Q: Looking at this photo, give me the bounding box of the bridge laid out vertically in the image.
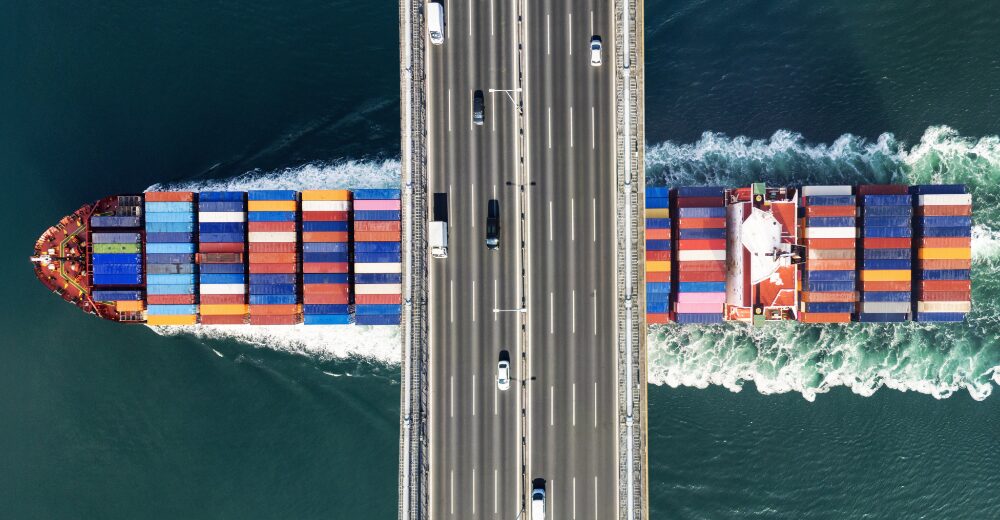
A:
[396,0,646,520]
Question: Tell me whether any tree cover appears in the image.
No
